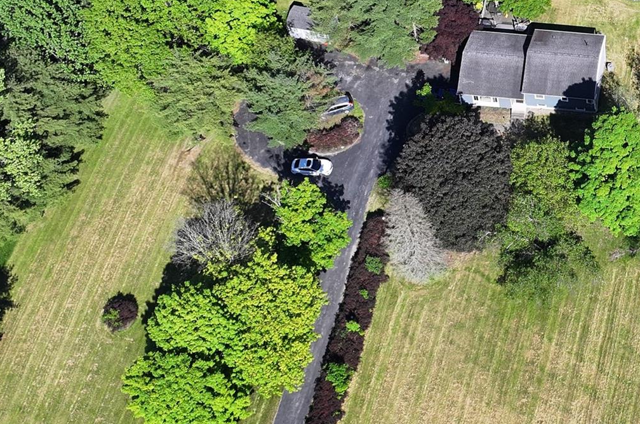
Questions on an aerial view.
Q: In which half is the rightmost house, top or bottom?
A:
top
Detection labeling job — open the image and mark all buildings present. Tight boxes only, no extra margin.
[457,29,607,127]
[286,7,337,43]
